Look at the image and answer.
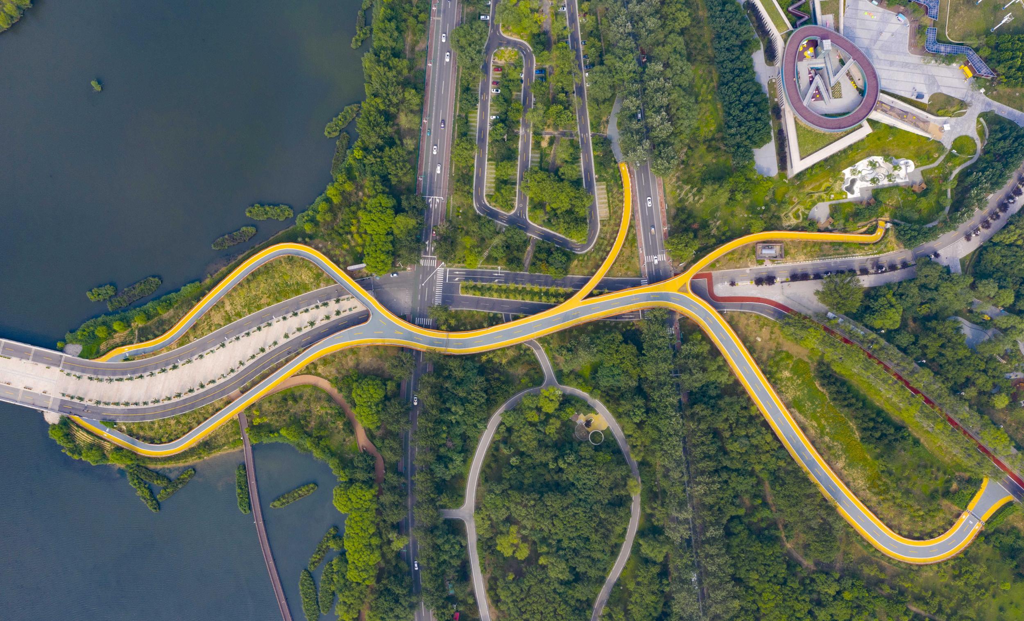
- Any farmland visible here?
No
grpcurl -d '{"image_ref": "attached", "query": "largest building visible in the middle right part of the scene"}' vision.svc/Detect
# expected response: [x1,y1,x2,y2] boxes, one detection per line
[754,243,784,260]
